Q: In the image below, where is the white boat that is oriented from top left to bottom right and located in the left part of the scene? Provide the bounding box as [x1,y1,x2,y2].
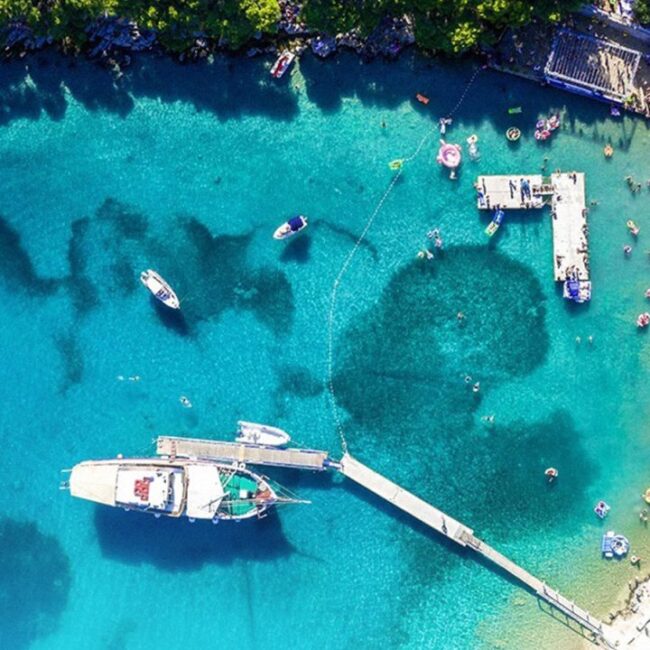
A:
[135,265,180,307]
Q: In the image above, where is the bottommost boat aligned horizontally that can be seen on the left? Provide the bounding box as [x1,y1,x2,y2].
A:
[60,454,308,525]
